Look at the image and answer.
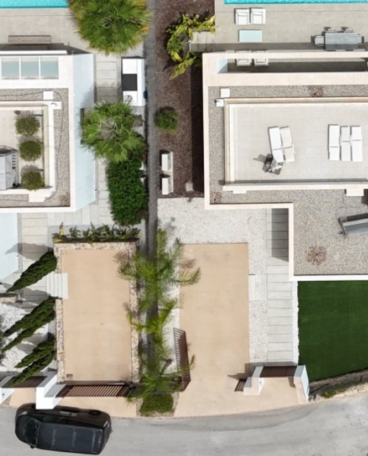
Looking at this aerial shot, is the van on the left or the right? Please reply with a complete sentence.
The van is on the left side of the image.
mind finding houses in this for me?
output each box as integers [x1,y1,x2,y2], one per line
[0,50,99,280]
[204,50,368,281]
